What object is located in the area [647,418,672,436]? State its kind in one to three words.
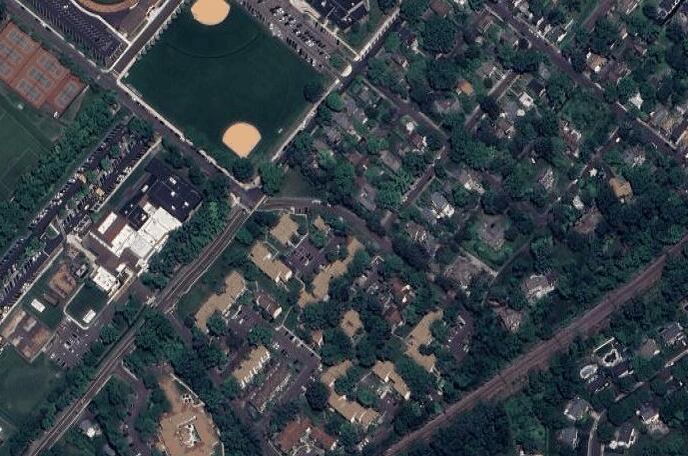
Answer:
house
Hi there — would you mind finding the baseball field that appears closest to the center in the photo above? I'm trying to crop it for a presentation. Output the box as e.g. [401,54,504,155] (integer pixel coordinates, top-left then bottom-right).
[223,121,261,157]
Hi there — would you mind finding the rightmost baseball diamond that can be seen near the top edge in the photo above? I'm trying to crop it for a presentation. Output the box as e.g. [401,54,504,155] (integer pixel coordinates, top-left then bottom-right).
[191,0,230,25]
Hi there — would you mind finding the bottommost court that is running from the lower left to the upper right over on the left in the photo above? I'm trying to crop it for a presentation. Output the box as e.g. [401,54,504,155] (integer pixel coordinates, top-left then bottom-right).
[41,70,89,123]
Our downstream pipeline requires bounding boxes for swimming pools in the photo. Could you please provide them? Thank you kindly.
[605,351,619,365]
[584,365,597,377]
